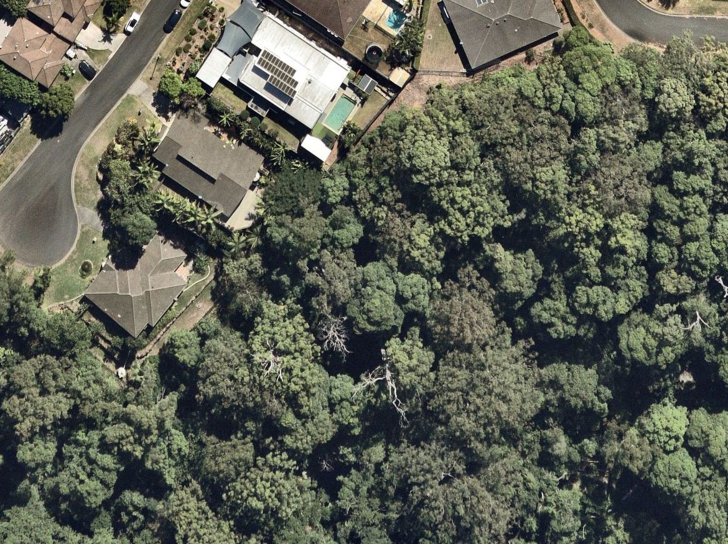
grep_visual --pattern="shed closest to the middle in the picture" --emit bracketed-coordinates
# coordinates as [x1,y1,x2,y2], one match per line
[301,134,330,161]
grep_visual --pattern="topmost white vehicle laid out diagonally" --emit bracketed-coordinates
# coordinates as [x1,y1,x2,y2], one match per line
[123,12,141,34]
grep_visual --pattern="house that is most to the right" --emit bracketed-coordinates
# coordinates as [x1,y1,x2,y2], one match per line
[442,0,561,70]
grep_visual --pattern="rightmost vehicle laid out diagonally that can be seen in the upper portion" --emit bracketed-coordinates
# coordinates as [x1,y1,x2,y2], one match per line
[162,8,183,33]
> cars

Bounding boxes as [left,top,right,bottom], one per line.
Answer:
[178,0,191,7]
[76,58,98,83]
[162,8,183,33]
[123,12,141,34]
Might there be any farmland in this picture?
No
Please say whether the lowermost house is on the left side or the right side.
left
